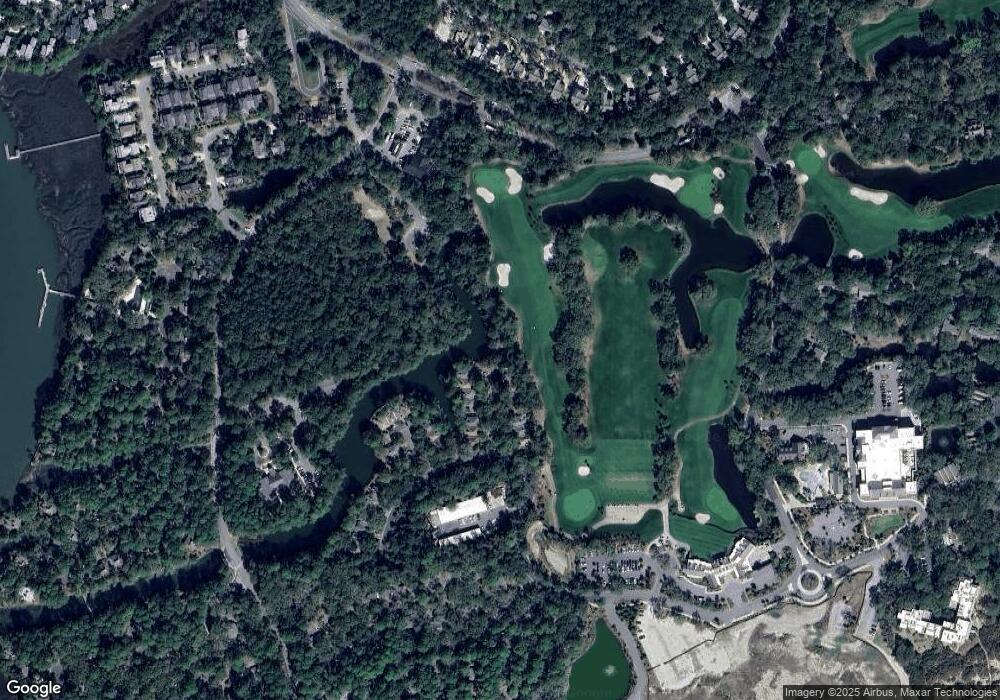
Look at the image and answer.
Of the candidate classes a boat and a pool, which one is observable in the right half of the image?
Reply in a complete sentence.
There is a pool in the right half of the image.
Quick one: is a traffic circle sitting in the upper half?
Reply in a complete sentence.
No, no traffic circle can be made out in the upper half.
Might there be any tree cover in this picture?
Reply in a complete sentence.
Yes, there's tree cover in this view.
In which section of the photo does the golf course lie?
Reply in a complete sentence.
Look in the right portion of the view to spot the golf course.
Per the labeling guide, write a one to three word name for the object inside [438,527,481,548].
building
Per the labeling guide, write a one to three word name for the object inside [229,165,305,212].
pond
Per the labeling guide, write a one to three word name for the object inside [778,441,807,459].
house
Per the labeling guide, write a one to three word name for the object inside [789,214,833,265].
pond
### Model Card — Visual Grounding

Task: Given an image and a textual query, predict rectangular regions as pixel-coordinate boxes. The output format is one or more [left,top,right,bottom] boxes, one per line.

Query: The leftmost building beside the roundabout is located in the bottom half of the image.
[683,537,771,585]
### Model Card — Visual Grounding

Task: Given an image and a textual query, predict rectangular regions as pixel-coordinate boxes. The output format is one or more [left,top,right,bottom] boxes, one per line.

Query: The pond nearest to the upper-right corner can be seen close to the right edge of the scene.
[875,36,958,78]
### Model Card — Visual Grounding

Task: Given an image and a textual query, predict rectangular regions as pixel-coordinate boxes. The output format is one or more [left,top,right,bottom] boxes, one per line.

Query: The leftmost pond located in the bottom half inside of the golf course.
[708,424,757,527]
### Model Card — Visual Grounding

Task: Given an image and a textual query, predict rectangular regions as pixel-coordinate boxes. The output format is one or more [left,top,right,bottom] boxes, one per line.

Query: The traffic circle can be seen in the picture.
[788,550,832,602]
